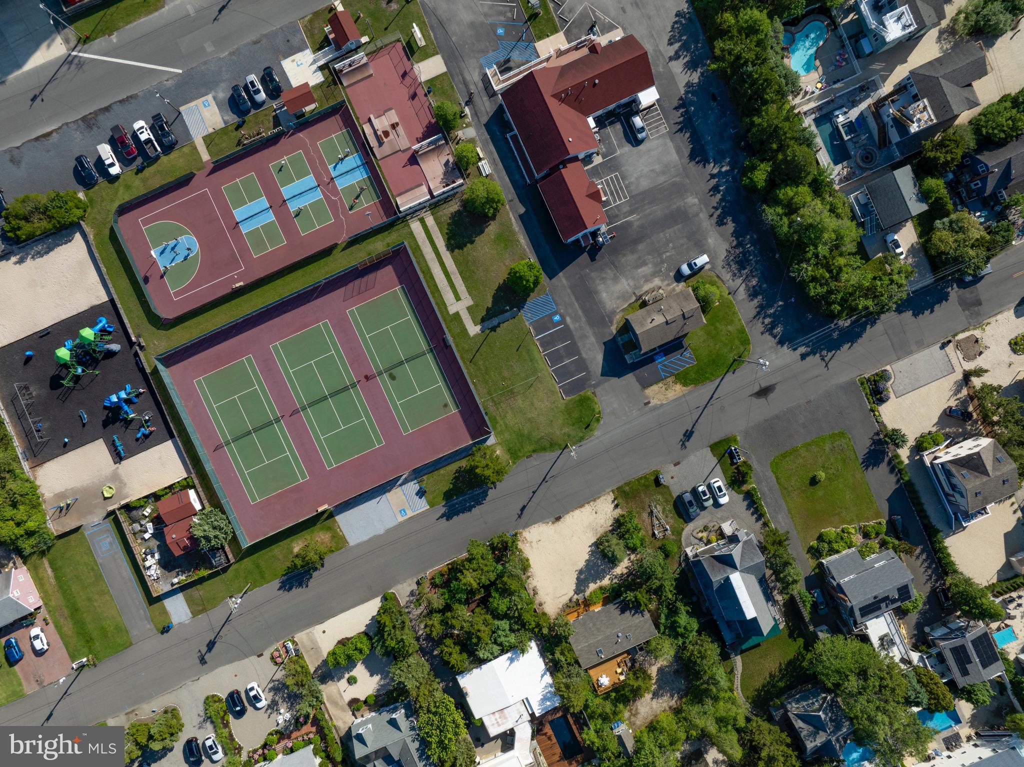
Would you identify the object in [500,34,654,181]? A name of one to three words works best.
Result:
building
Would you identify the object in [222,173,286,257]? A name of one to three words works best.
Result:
sports court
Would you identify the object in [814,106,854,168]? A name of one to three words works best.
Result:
swimming pool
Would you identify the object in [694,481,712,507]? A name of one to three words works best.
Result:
car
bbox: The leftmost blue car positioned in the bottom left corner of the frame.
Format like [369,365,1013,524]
[6,634,26,664]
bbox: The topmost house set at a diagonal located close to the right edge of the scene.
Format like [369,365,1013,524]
[868,42,987,151]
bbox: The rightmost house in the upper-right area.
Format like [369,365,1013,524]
[953,125,1024,201]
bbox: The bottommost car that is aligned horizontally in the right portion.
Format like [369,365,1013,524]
[941,405,972,421]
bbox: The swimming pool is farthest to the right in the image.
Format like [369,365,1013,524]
[990,624,1021,650]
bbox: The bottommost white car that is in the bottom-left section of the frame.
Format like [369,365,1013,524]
[205,732,224,761]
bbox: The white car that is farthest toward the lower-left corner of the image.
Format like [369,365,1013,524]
[32,626,50,652]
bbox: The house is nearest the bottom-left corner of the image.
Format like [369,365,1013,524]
[0,565,41,626]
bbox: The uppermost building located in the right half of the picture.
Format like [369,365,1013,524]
[840,0,946,61]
